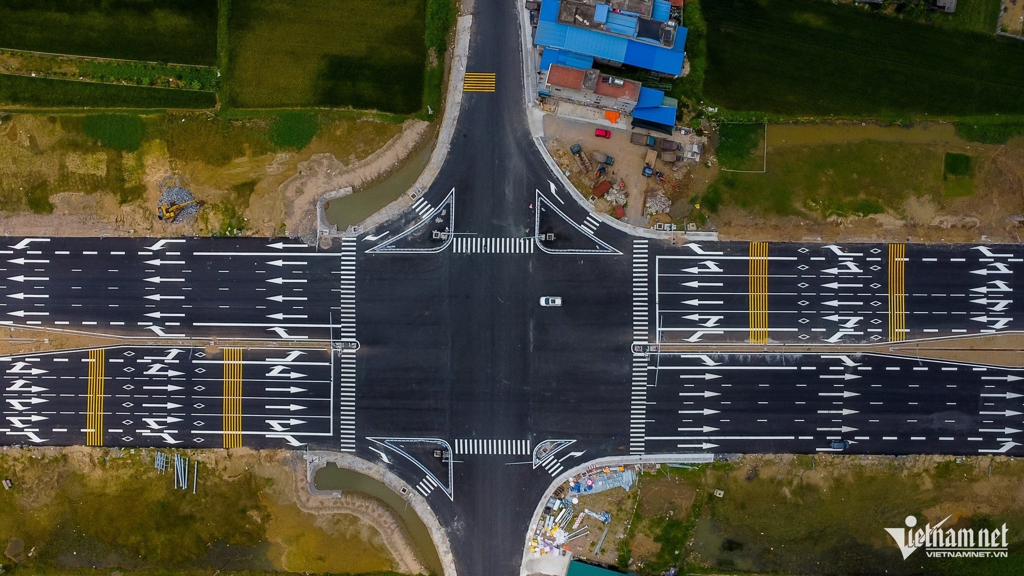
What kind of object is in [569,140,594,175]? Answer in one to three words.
truck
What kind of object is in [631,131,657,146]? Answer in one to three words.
vehicle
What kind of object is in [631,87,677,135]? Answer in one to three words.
shed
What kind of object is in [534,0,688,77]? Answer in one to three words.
house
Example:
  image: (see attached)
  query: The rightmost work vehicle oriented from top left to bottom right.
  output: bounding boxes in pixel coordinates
[653,168,681,190]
